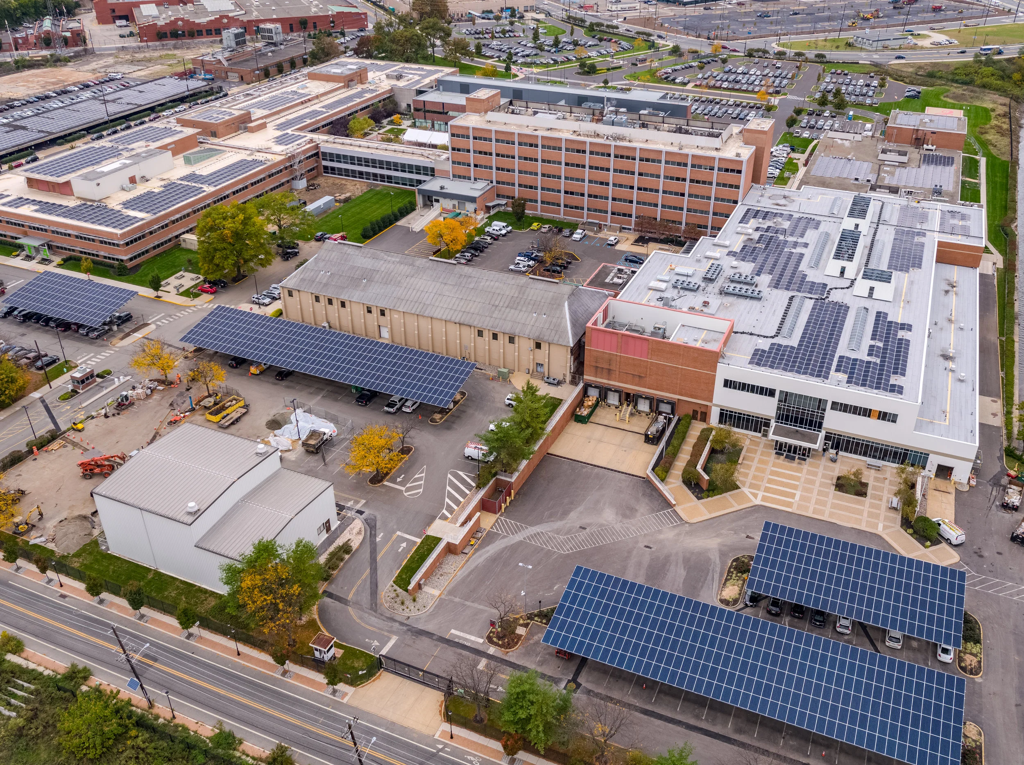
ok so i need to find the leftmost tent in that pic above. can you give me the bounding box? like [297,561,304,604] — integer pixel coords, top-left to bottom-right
[400,123,446,145]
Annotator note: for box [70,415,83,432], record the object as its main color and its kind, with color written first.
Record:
yellow vehicle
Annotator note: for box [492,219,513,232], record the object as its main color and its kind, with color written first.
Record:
white vehicle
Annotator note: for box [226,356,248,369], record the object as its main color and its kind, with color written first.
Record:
black vehicle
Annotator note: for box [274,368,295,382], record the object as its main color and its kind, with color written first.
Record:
black car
